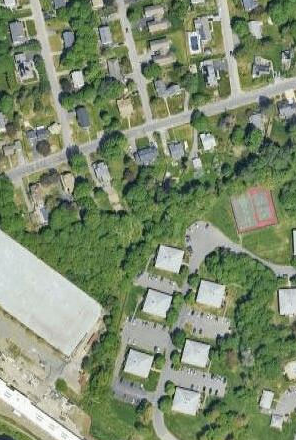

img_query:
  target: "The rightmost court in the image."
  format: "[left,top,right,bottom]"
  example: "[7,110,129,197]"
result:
[252,188,277,226]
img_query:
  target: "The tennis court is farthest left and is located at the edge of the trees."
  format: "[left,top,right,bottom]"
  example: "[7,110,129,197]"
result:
[231,192,260,233]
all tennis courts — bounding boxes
[231,192,260,233]
[252,188,277,226]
